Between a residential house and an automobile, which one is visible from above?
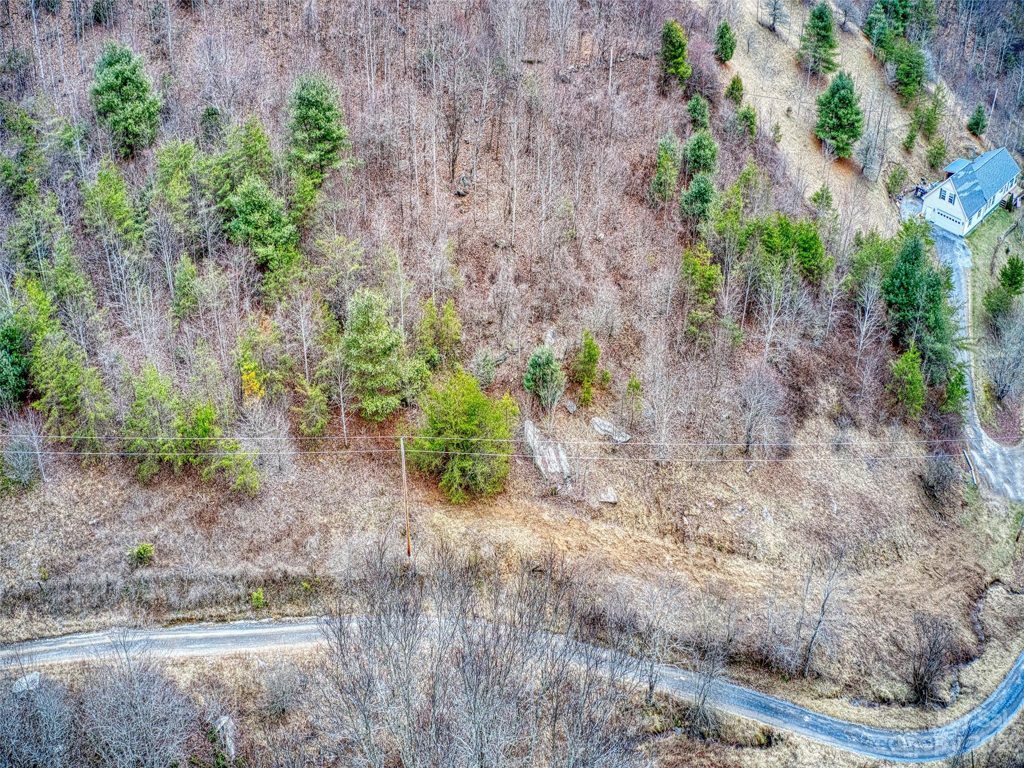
residential house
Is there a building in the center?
No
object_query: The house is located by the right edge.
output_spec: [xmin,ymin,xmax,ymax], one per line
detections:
[914,142,1023,238]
